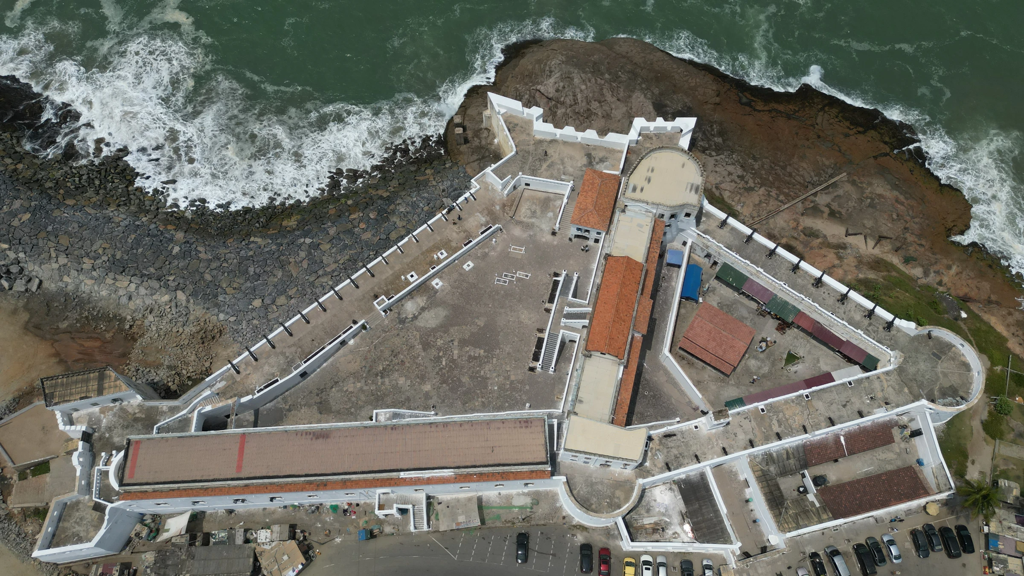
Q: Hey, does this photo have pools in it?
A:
No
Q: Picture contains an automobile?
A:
Yes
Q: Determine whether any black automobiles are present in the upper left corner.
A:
No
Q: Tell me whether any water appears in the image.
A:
Yes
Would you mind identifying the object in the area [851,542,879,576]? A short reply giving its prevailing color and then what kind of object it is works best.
black car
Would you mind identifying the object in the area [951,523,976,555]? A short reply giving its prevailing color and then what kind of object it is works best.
black car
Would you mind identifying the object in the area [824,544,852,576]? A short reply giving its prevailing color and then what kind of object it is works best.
gray car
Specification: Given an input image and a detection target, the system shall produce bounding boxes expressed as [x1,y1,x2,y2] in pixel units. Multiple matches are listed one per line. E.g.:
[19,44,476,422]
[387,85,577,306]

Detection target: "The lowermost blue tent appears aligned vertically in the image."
[682,264,703,306]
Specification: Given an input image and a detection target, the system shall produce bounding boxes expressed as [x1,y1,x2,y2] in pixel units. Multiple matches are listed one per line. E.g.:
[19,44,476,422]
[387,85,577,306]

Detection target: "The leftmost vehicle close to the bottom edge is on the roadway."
[515,532,529,564]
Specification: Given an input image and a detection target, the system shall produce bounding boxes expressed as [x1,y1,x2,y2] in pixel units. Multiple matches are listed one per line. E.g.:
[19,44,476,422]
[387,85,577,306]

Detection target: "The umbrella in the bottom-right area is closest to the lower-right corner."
[923,501,940,518]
